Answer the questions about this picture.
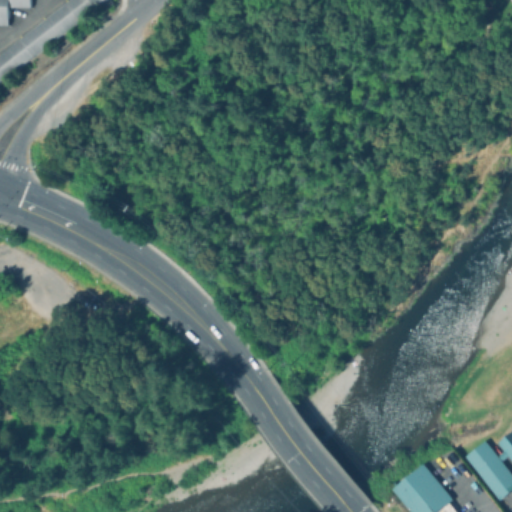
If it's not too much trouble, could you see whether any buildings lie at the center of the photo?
No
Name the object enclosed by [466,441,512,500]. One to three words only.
building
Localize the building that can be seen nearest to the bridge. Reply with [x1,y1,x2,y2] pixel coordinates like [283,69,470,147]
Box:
[393,464,453,512]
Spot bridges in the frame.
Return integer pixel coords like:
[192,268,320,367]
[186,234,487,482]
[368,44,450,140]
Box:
[234,361,379,512]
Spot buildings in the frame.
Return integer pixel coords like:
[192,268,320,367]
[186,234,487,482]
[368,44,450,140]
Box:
[0,0,9,26]
[10,0,32,9]
[498,432,512,463]
[466,441,512,500]
[393,464,453,512]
